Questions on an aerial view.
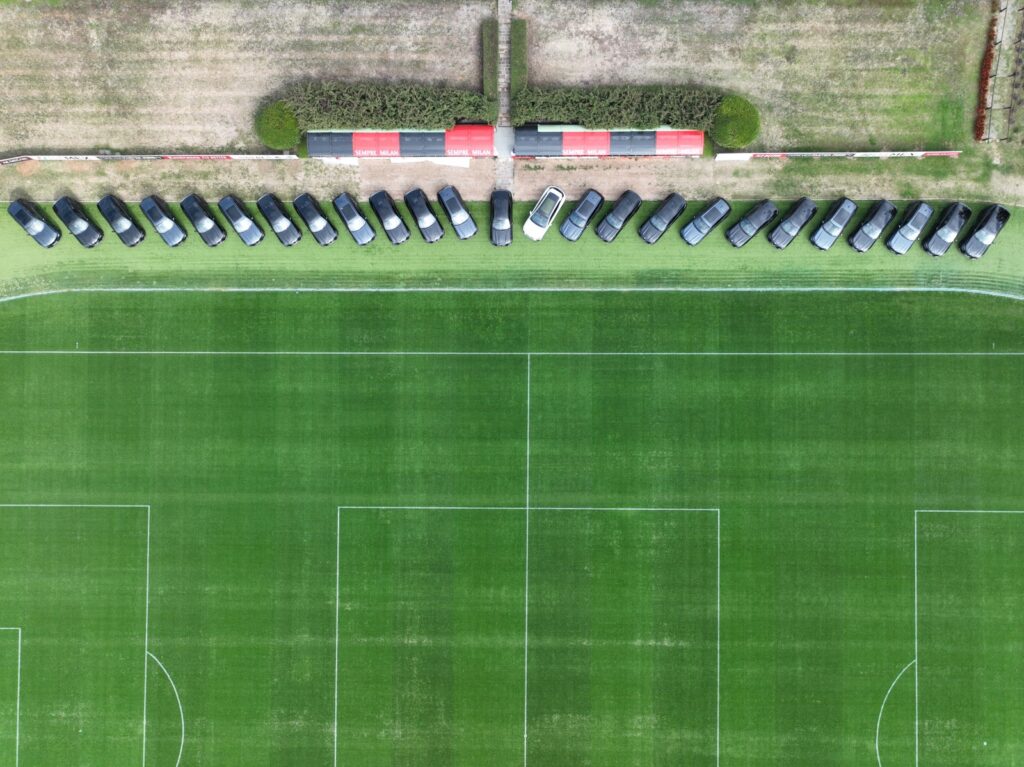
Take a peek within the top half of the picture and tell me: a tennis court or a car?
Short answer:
car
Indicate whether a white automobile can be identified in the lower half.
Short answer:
No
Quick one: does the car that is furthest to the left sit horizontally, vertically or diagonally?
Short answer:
diagonally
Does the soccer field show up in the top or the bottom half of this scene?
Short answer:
bottom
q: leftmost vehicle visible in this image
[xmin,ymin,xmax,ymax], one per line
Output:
[8,198,60,249]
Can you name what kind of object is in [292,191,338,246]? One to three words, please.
car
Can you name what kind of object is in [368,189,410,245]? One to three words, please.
car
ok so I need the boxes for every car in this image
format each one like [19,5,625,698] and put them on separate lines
[138,194,187,247]
[217,192,265,246]
[726,198,779,249]
[639,192,688,245]
[8,198,60,249]
[886,201,936,256]
[292,191,338,246]
[559,187,604,243]
[331,190,375,245]
[255,192,302,247]
[960,206,1011,261]
[368,189,410,245]
[596,189,643,243]
[52,195,103,248]
[179,192,226,247]
[810,196,859,251]
[848,198,898,253]
[922,202,972,258]
[489,190,514,246]
[681,197,733,248]
[523,186,566,243]
[403,186,444,243]
[97,193,146,247]
[436,183,477,240]
[768,198,819,251]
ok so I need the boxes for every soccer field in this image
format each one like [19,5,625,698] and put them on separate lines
[0,287,1024,767]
